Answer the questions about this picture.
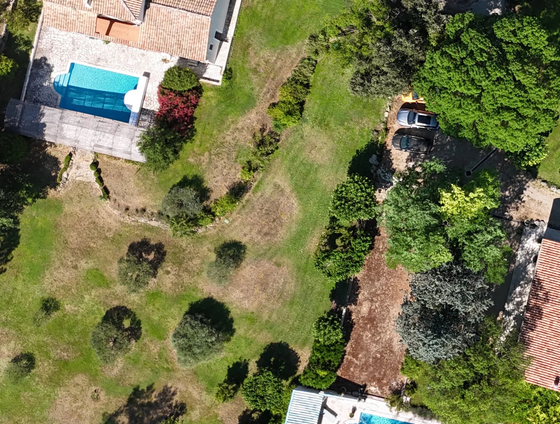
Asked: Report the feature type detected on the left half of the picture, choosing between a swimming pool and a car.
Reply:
swimming pool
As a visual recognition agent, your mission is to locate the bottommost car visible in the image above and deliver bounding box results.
[391,133,435,155]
